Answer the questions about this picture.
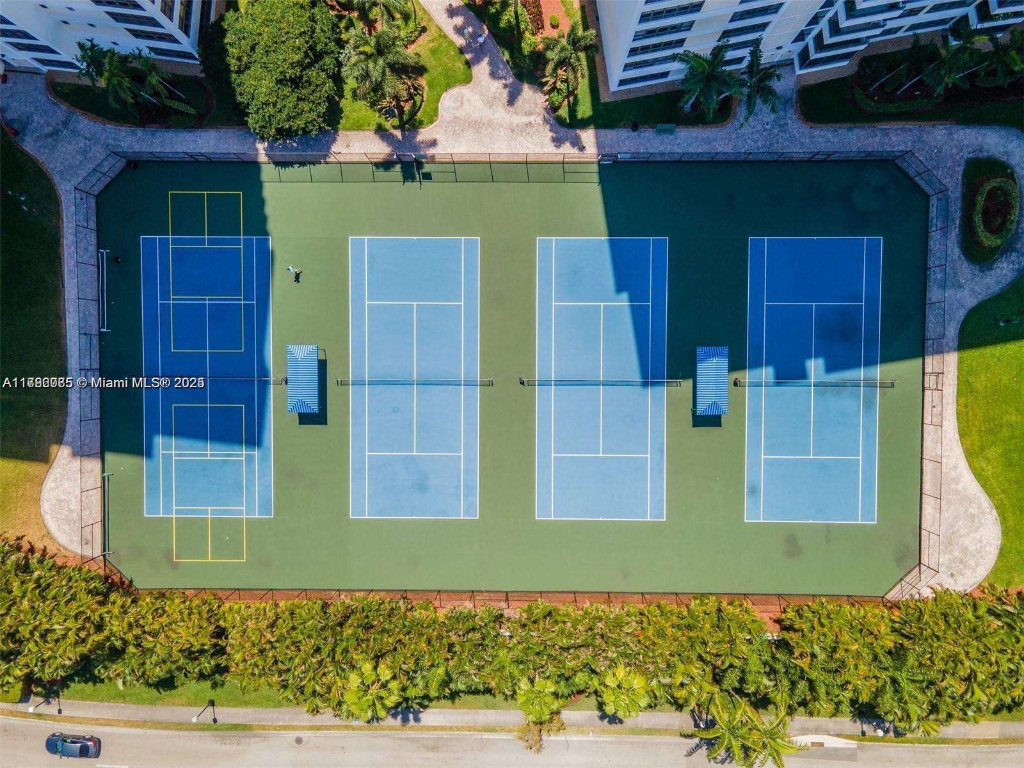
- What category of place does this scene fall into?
sports ground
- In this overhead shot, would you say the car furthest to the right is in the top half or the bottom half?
bottom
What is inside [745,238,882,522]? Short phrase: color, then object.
blue tennis court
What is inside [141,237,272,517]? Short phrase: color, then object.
blue tennis court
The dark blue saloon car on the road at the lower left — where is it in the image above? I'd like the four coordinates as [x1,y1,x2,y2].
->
[47,730,99,758]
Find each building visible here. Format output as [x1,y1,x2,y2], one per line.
[0,0,215,74]
[596,0,1024,91]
